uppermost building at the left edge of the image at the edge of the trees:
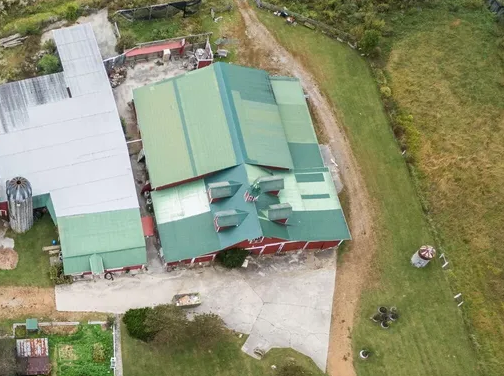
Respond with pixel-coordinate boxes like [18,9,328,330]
[0,23,147,284]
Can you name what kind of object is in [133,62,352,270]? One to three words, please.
barn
